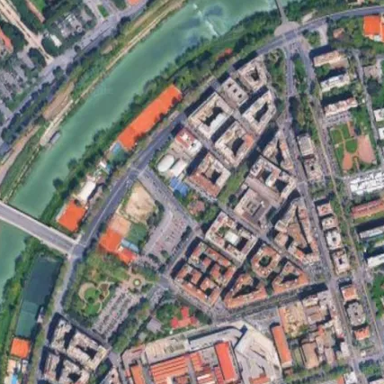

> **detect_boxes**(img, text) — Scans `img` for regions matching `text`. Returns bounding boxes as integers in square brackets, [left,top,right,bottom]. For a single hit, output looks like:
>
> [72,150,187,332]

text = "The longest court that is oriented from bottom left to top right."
[118,84,181,149]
